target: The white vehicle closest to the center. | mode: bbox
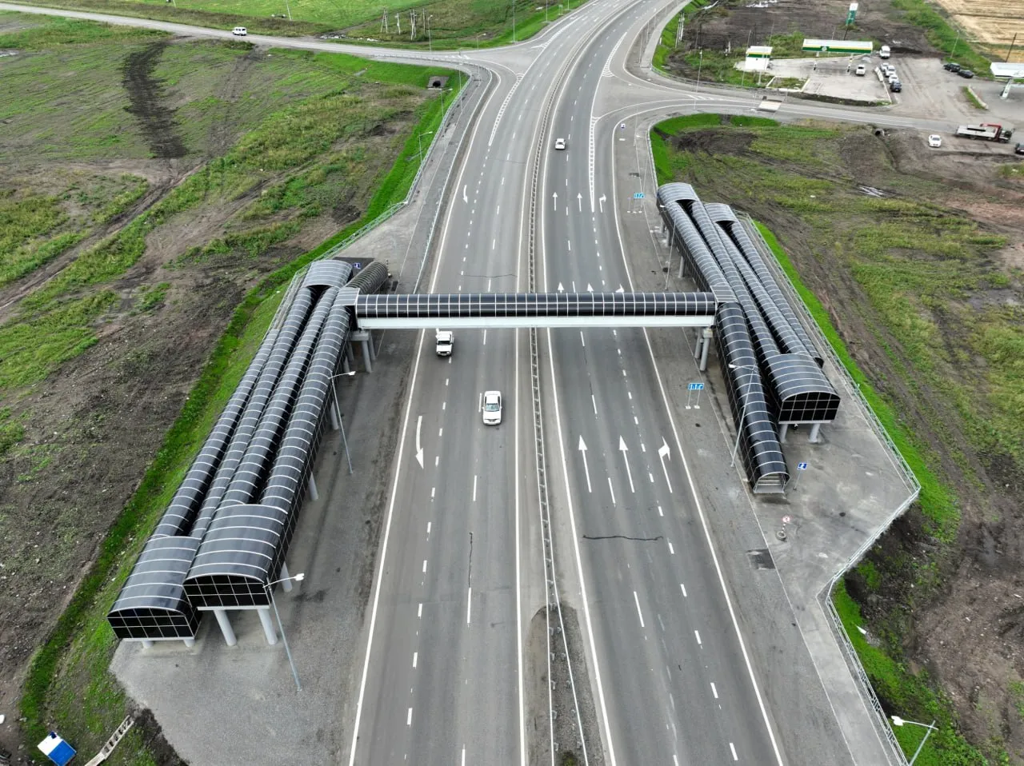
[481,390,503,424]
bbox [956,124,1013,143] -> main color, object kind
white vehicle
